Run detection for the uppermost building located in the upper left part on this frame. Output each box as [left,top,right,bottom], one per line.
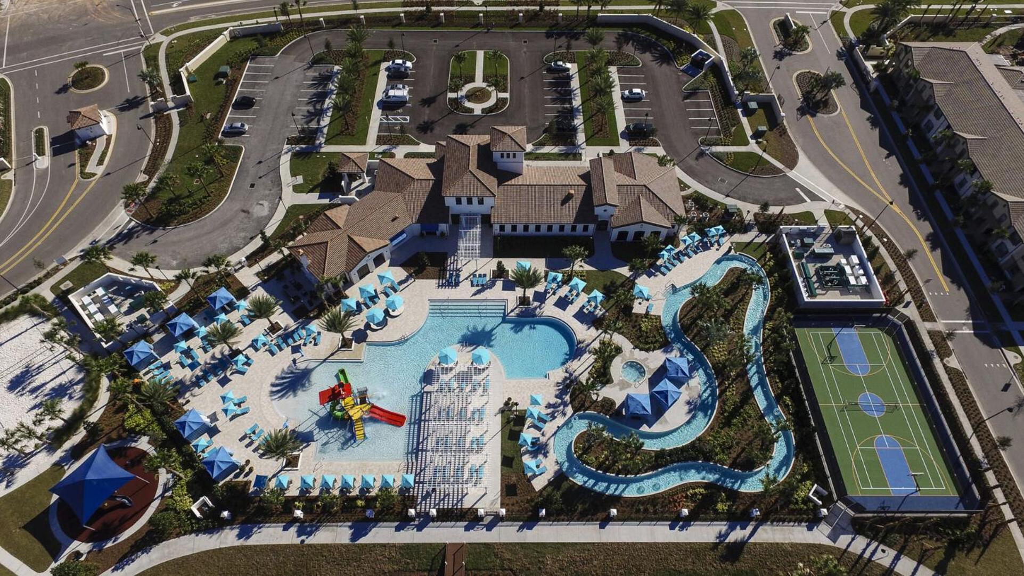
[59,104,107,141]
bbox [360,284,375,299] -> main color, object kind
blue umbrella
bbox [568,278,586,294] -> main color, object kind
blue umbrella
